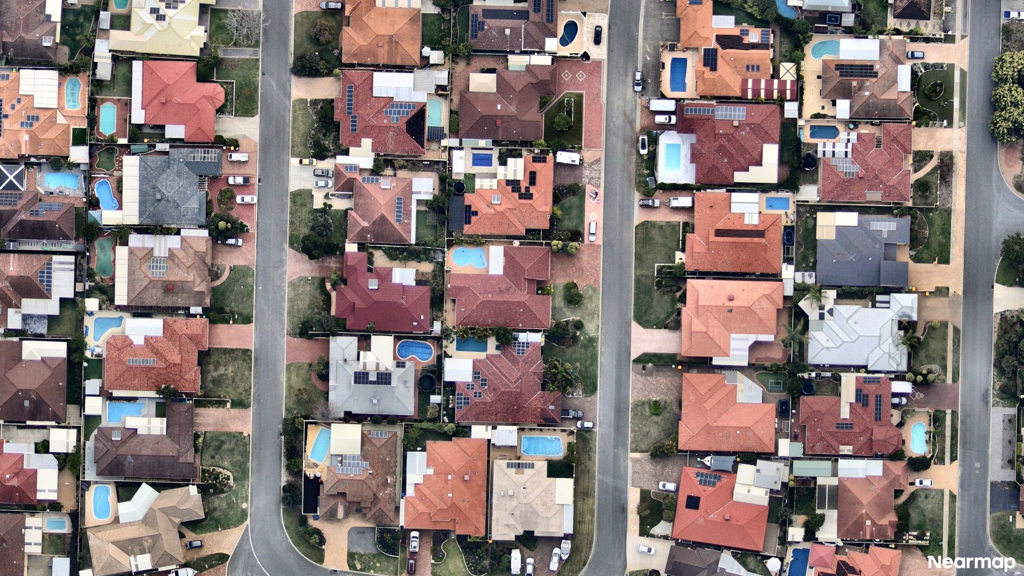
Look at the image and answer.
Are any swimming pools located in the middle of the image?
Yes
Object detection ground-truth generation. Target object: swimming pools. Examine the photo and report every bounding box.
[809,37,840,60]
[806,124,840,140]
[663,140,684,172]
[107,402,147,424]
[427,97,444,130]
[112,0,129,11]
[520,434,564,457]
[63,76,82,111]
[94,236,115,279]
[670,57,688,92]
[93,178,120,211]
[452,247,487,269]
[91,314,125,343]
[471,152,494,168]
[455,336,489,353]
[773,0,799,20]
[559,19,579,48]
[786,547,810,576]
[910,422,928,455]
[98,101,118,136]
[43,172,80,189]
[396,339,435,363]
[308,426,331,464]
[92,483,112,521]
[44,516,68,531]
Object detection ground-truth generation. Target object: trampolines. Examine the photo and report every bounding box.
[784,230,794,245]
[779,399,790,416]
[827,14,840,24]
[803,152,818,169]
[419,373,436,391]
[802,380,815,393]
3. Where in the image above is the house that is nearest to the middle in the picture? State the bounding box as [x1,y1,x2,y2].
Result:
[449,245,551,329]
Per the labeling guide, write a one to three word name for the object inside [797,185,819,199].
shed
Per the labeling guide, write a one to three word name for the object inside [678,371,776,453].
house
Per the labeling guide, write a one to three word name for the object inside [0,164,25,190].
gazebo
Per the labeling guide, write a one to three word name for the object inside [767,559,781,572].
umbrella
